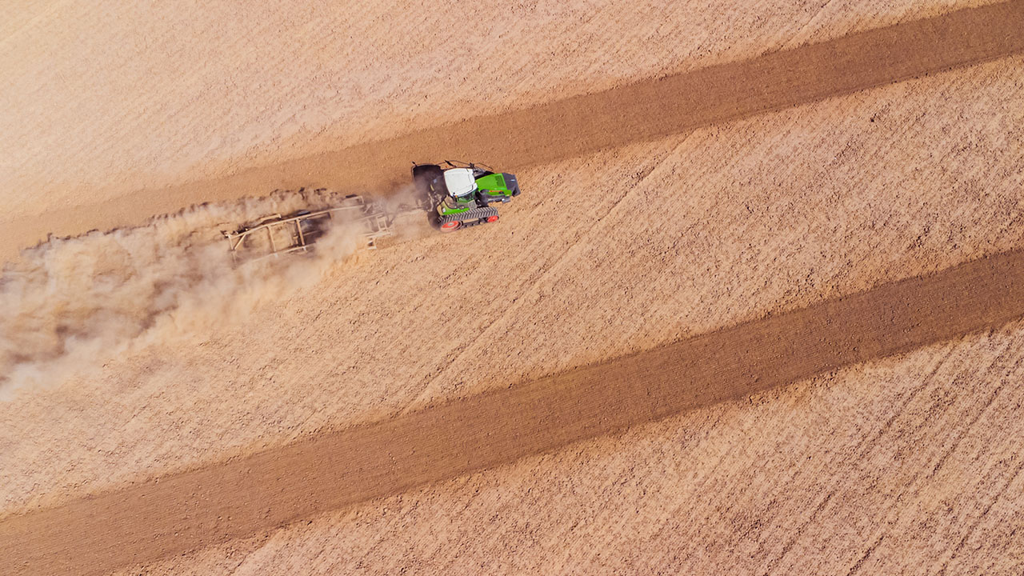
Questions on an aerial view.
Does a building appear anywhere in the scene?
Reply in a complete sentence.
No, there isn't any building down there.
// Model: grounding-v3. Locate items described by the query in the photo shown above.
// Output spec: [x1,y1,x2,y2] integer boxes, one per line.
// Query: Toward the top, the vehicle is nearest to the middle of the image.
[414,164,519,233]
